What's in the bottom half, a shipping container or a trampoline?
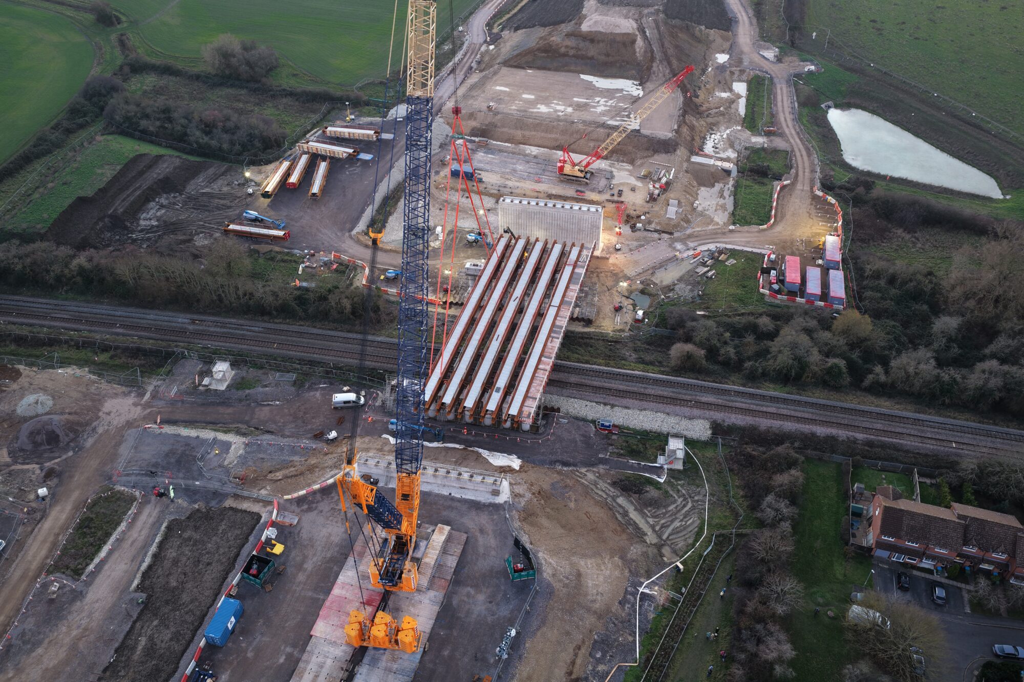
shipping container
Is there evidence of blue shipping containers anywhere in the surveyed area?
Yes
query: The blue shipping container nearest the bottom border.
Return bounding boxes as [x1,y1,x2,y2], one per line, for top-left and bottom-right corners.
[200,599,239,648]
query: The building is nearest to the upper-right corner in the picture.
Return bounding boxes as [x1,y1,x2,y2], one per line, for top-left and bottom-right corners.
[826,233,844,268]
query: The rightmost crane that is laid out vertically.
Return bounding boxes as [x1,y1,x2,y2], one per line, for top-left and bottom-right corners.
[327,0,453,614]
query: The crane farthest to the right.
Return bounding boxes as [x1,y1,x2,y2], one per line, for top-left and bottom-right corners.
[554,67,692,187]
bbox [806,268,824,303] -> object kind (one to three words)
building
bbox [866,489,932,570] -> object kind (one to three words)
house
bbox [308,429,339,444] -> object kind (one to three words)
work vehicle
